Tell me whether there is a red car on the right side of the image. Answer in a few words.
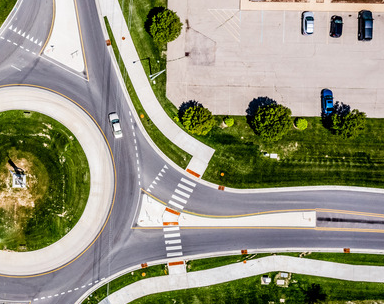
No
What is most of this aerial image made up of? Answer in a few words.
paved ground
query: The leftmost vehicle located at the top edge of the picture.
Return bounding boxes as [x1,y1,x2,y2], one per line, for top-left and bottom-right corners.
[299,11,315,37]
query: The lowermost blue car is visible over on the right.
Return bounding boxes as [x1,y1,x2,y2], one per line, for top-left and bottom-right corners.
[319,88,335,116]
